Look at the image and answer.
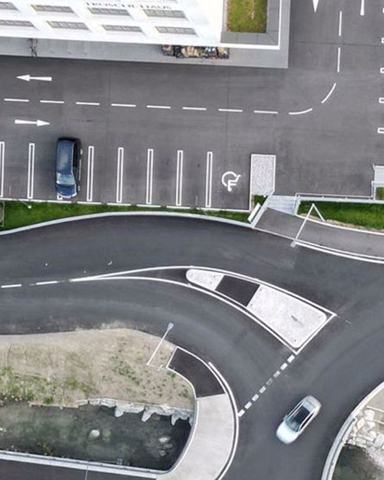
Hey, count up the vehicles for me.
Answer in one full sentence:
I count 2 vehicles.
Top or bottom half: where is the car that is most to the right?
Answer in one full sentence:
The car that is most to the right sits in the bottom half of the picture.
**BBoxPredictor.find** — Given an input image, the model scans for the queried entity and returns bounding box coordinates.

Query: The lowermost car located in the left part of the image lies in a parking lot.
[49,139,80,198]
